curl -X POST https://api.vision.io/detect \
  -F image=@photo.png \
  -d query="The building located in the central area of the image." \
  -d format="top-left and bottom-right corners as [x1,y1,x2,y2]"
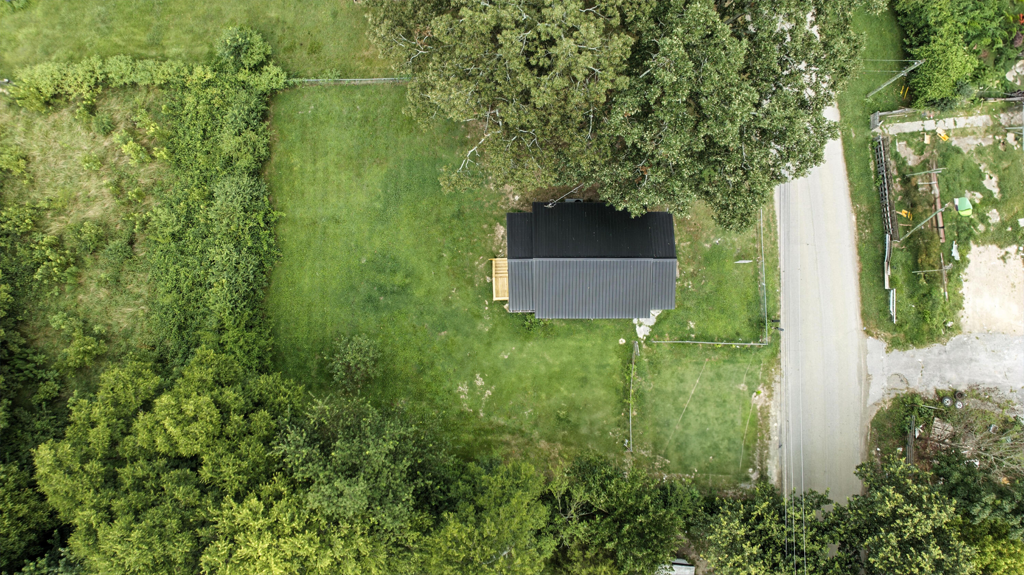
[488,199,677,319]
